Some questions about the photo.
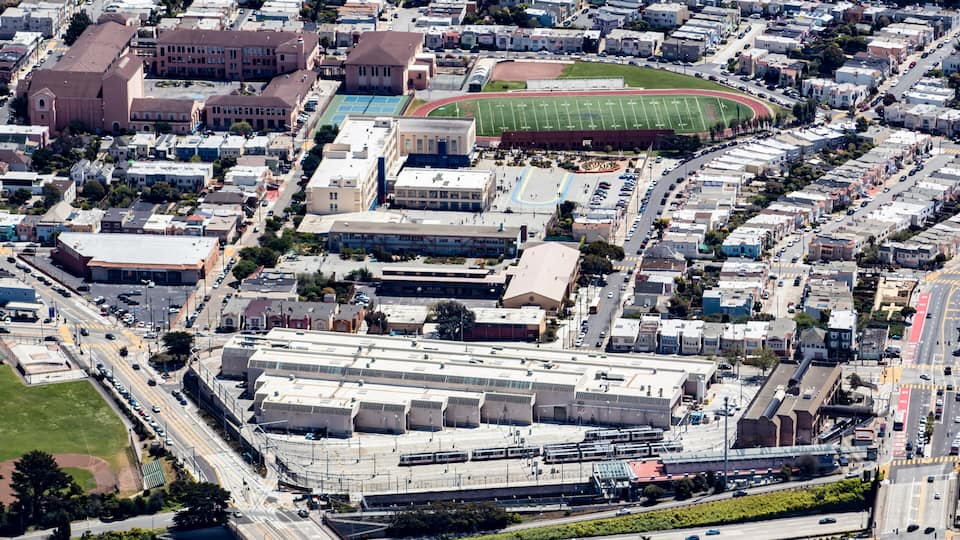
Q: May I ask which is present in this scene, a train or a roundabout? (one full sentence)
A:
Of the two, only a train appears.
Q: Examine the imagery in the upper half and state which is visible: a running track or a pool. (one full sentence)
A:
It is a running track that can be seen in the upper half.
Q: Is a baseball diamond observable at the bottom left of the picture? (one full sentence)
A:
Yes, there is a baseball diamond at the bottom left of the picture.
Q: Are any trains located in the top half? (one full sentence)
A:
No, I can find no train in the top half.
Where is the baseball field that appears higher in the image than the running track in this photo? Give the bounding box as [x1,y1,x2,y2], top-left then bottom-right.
[497,58,574,81]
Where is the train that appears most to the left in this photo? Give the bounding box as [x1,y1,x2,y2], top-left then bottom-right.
[398,445,469,465]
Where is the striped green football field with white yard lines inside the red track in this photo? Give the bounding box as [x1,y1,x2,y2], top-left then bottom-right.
[430,97,750,135]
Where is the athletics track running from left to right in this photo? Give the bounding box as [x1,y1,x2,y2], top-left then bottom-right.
[407,90,774,142]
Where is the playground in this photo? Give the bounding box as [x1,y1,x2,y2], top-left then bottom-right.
[475,158,596,213]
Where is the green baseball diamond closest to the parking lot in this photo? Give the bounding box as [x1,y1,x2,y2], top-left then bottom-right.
[0,363,138,497]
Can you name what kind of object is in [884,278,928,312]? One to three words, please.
building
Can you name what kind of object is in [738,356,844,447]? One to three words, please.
barn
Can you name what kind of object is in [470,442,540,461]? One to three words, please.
train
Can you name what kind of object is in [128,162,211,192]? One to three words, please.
house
